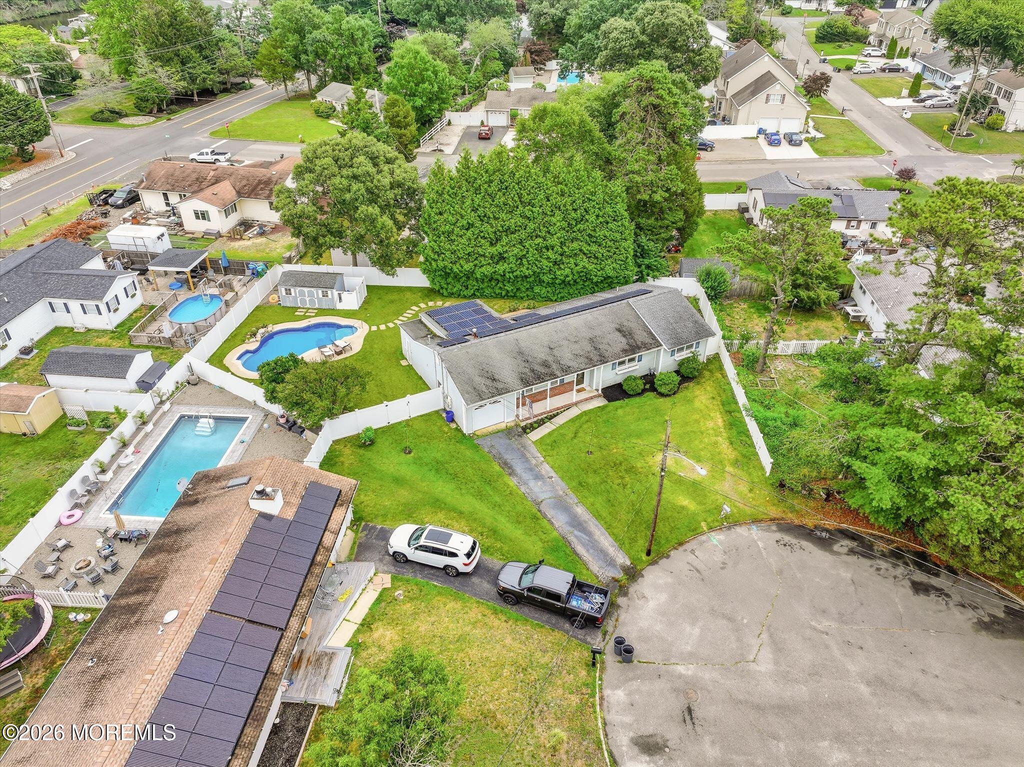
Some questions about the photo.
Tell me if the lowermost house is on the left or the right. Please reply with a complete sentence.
You can find the lowermost house on the left side of the picture.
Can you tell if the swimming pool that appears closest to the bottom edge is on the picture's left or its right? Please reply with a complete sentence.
The swimming pool that appears closest to the bottom edge appears in the left half of the scene.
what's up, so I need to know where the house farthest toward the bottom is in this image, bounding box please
[0,447,361,767]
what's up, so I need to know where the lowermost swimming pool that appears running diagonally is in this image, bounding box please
[100,412,250,520]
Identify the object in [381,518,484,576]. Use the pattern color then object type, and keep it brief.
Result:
white car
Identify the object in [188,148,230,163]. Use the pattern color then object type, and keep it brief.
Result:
white vehicle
